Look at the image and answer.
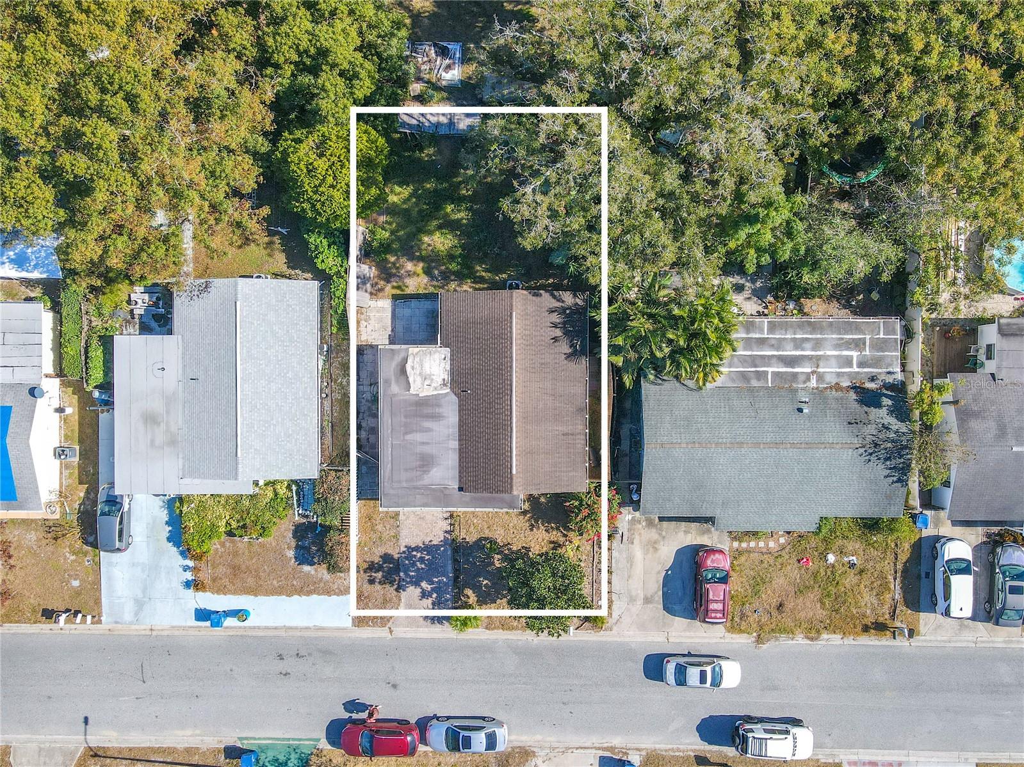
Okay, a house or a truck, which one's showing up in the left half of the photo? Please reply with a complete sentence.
Visible in the left half of the photo is a house.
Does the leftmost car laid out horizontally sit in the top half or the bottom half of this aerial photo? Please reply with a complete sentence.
The leftmost car laid out horizontally is in the bottom half of the image.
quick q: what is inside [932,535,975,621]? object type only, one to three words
car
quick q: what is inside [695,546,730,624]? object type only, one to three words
car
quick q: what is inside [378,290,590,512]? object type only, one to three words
house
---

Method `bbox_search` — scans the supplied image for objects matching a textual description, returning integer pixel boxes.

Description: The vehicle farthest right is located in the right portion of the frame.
[985,542,1024,628]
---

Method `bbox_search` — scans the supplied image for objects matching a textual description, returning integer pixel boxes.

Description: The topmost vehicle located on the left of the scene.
[96,483,134,554]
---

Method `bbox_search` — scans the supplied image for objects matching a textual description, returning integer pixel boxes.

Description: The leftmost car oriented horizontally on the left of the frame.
[342,719,421,757]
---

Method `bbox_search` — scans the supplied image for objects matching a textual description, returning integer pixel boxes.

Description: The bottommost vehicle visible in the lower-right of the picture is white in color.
[733,718,815,760]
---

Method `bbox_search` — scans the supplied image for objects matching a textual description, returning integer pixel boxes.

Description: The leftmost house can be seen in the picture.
[0,301,60,512]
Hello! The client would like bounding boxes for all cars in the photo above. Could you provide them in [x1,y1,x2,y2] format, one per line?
[985,542,1024,628]
[733,718,815,760]
[695,546,730,624]
[342,719,421,757]
[662,653,740,689]
[932,535,975,621]
[96,483,134,554]
[425,716,508,753]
